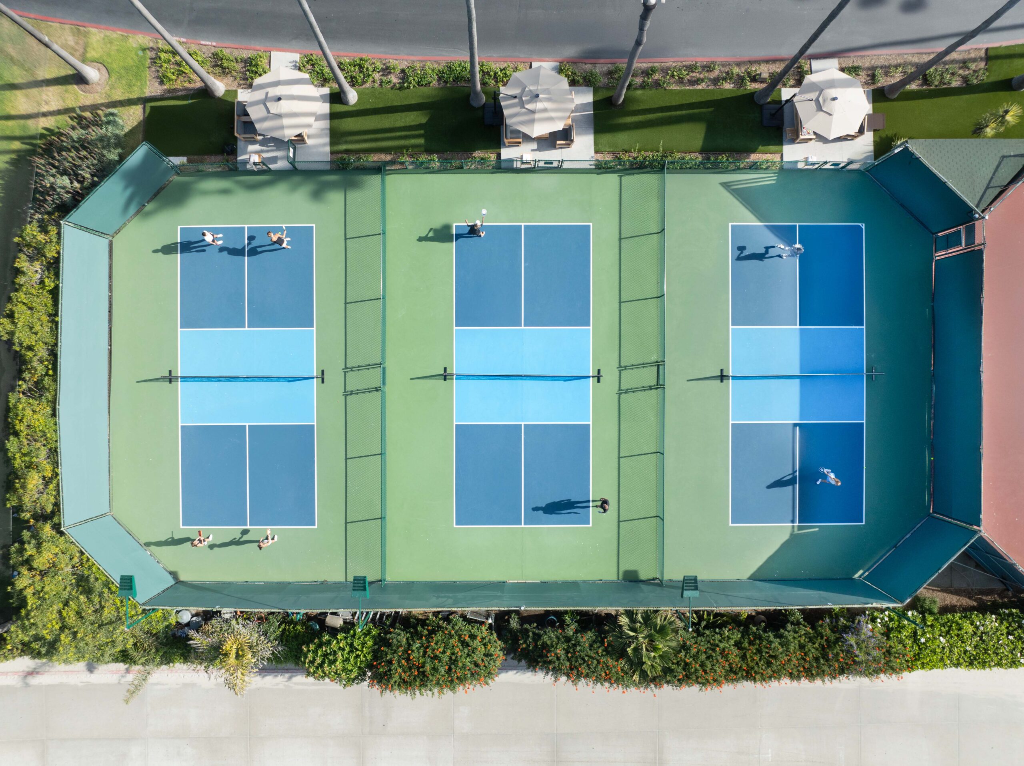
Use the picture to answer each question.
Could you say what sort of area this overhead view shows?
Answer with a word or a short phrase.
sports ground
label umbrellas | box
[485,61,576,140]
[238,61,321,141]
[765,64,871,143]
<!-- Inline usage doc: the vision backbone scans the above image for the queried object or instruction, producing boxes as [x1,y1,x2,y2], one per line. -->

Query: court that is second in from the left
[386,169,660,581]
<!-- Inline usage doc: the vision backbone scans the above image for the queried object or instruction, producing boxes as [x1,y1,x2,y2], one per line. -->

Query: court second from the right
[658,169,933,581]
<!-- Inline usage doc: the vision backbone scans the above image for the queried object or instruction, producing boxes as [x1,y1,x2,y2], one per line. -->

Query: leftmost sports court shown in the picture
[111,169,386,582]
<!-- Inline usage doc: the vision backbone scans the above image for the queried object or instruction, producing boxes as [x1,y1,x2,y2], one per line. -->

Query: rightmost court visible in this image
[932,172,1024,579]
